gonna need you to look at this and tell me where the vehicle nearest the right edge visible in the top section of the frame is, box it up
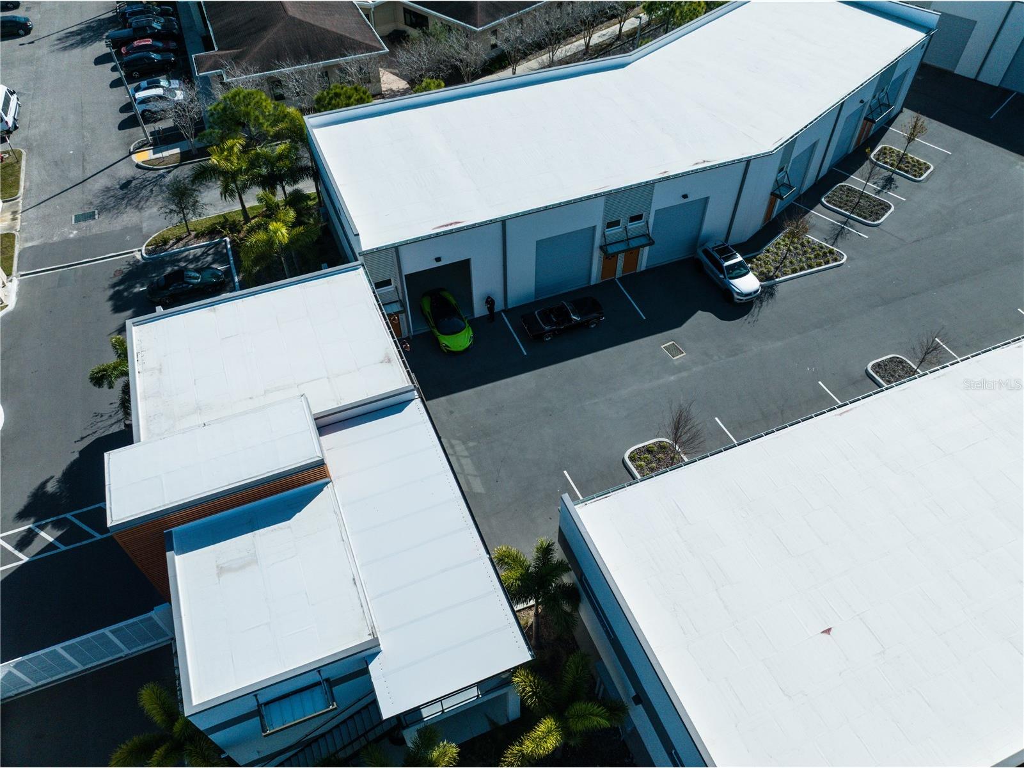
[695,236,762,299]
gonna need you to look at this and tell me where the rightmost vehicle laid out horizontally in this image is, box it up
[521,291,611,336]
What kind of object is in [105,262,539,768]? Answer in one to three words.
building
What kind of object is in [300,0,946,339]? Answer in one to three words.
building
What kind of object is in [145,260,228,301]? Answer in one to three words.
car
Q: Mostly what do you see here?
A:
buildings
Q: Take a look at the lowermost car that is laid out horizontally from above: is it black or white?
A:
black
